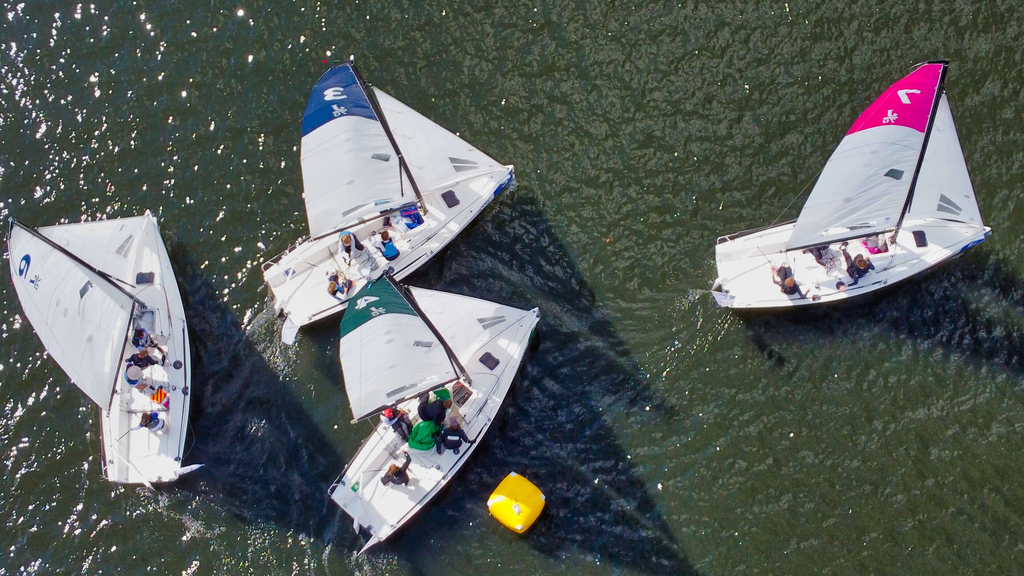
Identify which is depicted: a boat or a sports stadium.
boat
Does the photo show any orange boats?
No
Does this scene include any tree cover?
No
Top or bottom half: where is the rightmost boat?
top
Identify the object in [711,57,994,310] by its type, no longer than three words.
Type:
boat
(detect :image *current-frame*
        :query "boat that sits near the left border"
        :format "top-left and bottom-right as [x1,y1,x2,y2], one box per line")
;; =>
[1,211,204,496]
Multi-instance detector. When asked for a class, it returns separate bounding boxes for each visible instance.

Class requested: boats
[325,267,547,557]
[1,211,204,496]
[263,55,520,343]
[711,57,994,310]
